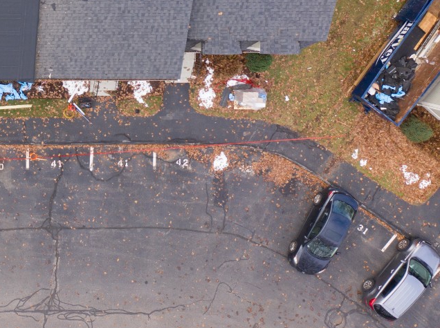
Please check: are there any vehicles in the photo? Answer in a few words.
Yes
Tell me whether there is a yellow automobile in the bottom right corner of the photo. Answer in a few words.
No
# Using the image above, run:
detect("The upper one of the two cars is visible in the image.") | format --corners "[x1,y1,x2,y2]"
[286,183,356,275]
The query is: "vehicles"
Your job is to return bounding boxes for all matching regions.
[286,183,356,275]
[356,232,439,325]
